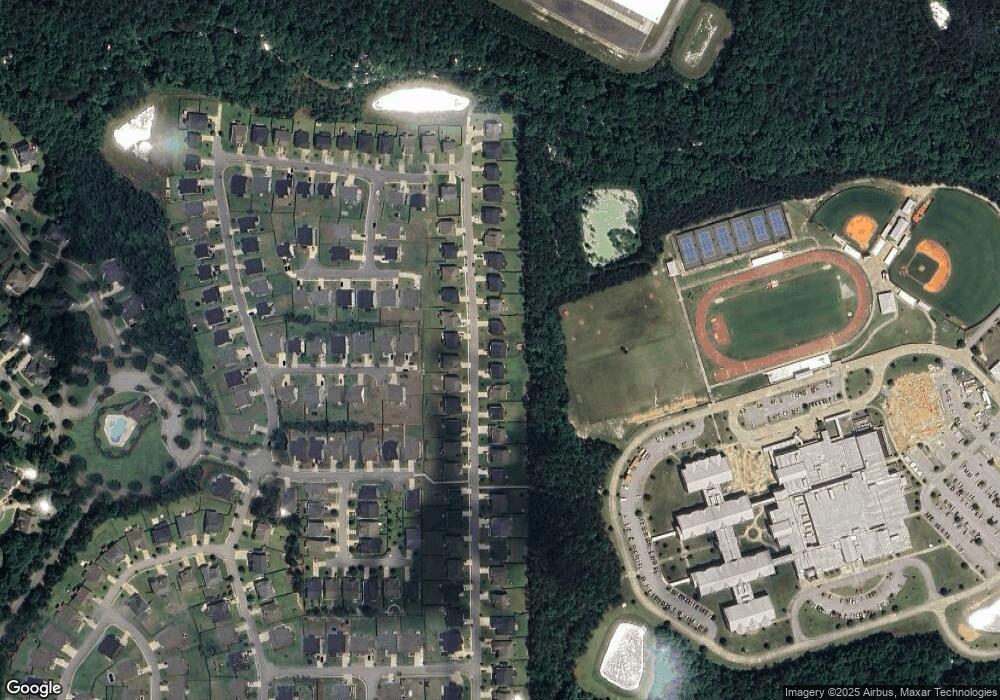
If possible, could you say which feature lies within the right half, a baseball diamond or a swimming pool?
baseball diamond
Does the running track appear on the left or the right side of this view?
right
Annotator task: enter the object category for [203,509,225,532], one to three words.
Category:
house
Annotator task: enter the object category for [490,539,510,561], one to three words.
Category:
house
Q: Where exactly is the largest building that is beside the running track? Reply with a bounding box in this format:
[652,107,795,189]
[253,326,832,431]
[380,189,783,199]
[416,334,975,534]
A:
[652,408,912,634]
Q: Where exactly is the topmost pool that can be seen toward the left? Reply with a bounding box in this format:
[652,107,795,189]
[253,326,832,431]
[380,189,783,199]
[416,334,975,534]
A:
[104,415,137,447]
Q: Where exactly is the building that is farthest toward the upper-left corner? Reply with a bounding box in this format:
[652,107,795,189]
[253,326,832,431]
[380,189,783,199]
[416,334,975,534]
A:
[16,140,34,167]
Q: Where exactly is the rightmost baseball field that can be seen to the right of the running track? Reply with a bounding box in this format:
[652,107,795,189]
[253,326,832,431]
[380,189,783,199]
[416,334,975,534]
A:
[889,188,1000,329]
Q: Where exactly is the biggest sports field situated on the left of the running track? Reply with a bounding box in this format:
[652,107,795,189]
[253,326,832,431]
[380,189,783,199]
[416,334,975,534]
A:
[558,277,706,426]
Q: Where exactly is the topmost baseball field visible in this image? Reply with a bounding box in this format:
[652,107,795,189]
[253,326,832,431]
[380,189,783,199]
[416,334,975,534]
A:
[811,187,902,253]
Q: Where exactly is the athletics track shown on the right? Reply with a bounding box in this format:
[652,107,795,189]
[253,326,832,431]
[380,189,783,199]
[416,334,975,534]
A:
[695,248,872,377]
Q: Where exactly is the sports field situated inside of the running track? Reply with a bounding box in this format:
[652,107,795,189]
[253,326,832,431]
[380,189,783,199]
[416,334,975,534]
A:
[720,271,840,351]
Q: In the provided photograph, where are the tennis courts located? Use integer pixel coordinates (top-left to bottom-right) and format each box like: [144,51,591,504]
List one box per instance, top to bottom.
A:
[769,210,787,237]
[751,215,770,242]
[732,220,751,248]
[715,226,733,253]
[697,230,716,259]
[680,237,698,265]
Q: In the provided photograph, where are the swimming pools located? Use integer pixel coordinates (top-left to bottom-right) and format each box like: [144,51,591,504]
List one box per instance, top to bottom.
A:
[104,415,137,447]
[105,671,115,684]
